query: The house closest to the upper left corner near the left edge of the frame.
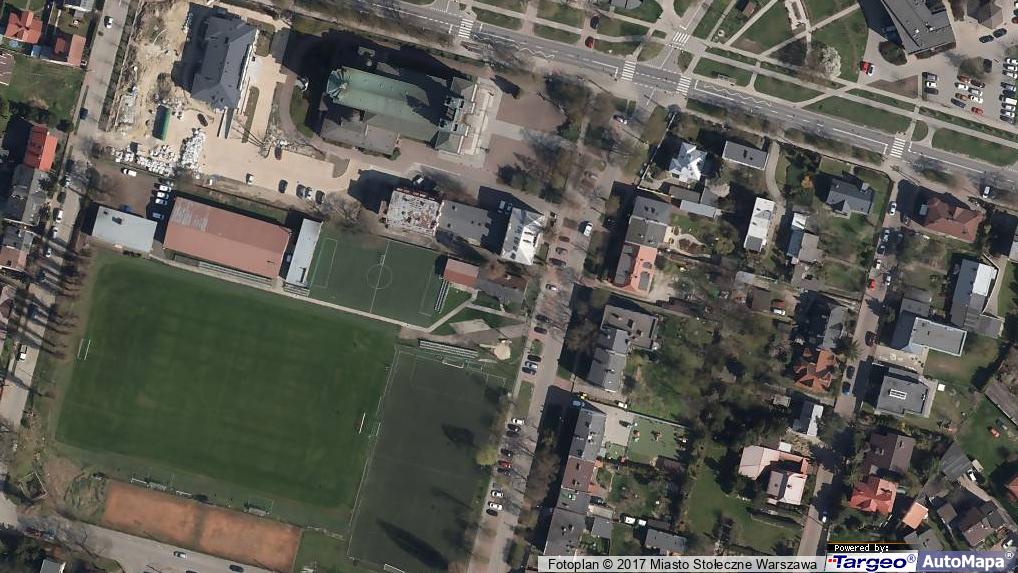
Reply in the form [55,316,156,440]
[5,10,42,44]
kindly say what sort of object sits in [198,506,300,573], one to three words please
sports court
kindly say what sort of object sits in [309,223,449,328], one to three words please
soccer field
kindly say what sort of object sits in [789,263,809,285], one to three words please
shed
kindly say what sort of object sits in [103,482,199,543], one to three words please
sports court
